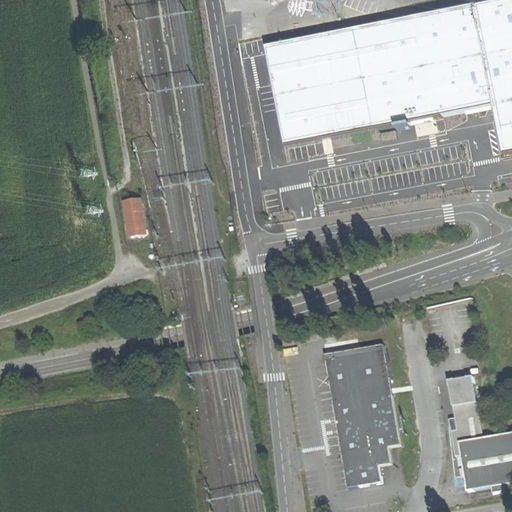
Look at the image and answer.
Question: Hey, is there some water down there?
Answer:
No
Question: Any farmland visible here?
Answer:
Yes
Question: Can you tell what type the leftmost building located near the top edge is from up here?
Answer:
warehouse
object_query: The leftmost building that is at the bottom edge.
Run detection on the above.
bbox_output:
[324,344,402,492]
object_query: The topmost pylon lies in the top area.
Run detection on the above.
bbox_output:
[84,164,96,181]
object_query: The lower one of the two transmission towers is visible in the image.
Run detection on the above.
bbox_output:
[89,202,102,218]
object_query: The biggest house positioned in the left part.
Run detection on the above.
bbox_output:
[122,197,148,238]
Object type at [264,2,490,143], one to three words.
warehouse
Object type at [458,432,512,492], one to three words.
building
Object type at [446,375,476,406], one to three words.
building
